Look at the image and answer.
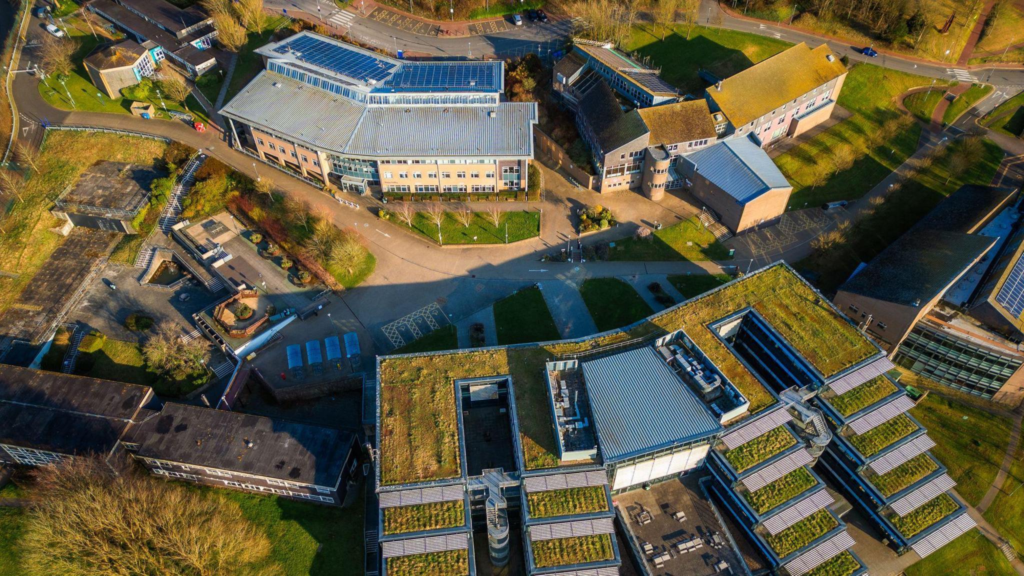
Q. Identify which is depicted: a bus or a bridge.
bridge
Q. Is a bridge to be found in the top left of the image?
No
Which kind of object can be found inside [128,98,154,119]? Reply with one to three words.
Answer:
building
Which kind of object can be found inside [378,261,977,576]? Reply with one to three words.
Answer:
building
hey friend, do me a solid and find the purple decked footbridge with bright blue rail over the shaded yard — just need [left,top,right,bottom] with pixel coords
[214,357,257,412]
